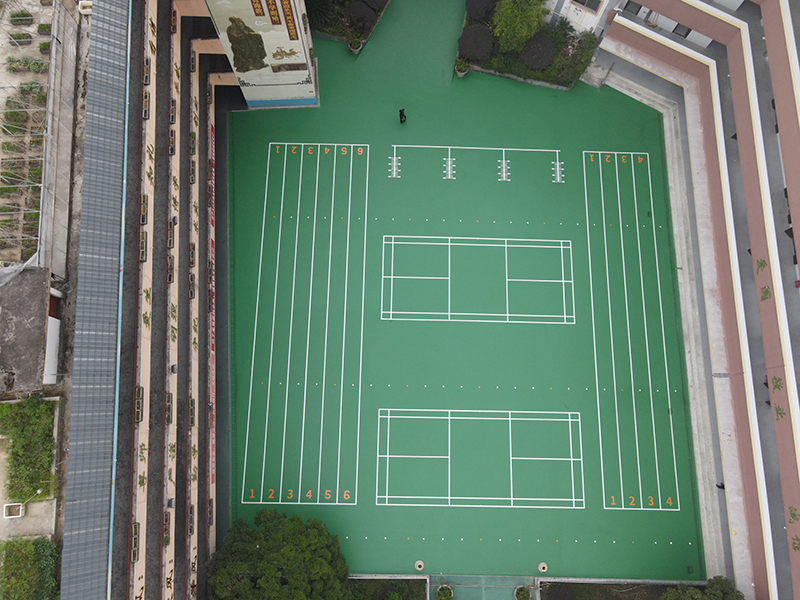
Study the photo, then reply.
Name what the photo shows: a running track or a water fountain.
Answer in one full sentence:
Looking from above, you can make out a running track.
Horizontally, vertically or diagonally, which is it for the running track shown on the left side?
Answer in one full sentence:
I'd say the running track shown on the left side is aligned vertically in the picture.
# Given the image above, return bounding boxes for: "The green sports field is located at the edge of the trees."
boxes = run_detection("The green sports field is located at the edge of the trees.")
[227,0,707,580]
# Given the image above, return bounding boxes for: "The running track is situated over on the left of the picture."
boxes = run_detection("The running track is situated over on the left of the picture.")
[241,144,369,505]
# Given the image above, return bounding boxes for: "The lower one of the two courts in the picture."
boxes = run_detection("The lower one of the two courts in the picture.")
[377,409,584,509]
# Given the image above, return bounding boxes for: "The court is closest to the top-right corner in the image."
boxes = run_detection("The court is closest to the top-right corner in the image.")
[381,236,575,323]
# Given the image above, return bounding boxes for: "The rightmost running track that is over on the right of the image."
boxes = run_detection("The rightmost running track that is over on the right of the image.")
[583,152,680,510]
